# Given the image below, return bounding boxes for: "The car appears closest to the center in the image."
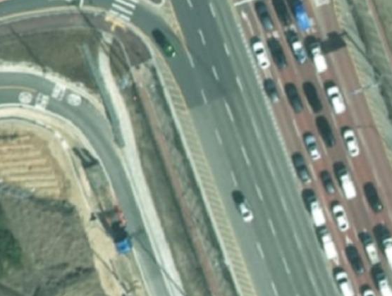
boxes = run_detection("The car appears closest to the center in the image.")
[238,200,254,223]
